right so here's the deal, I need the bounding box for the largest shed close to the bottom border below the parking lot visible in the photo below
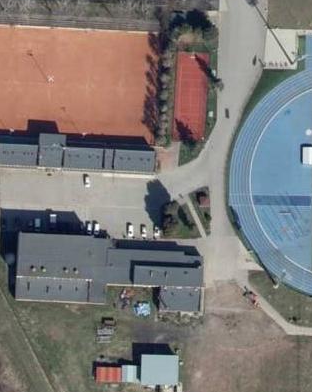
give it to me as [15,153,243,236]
[138,354,178,386]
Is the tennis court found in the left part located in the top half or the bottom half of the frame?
top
